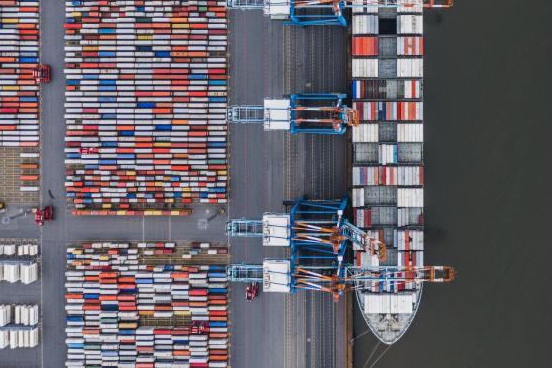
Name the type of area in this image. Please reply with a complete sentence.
The area seen from above is a port.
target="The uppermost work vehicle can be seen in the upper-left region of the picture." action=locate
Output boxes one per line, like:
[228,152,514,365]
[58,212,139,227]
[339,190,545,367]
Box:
[33,64,50,83]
